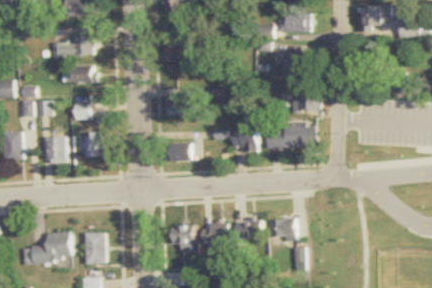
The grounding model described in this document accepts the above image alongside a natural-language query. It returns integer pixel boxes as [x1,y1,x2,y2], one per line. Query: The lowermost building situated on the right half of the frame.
[295,246,309,272]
